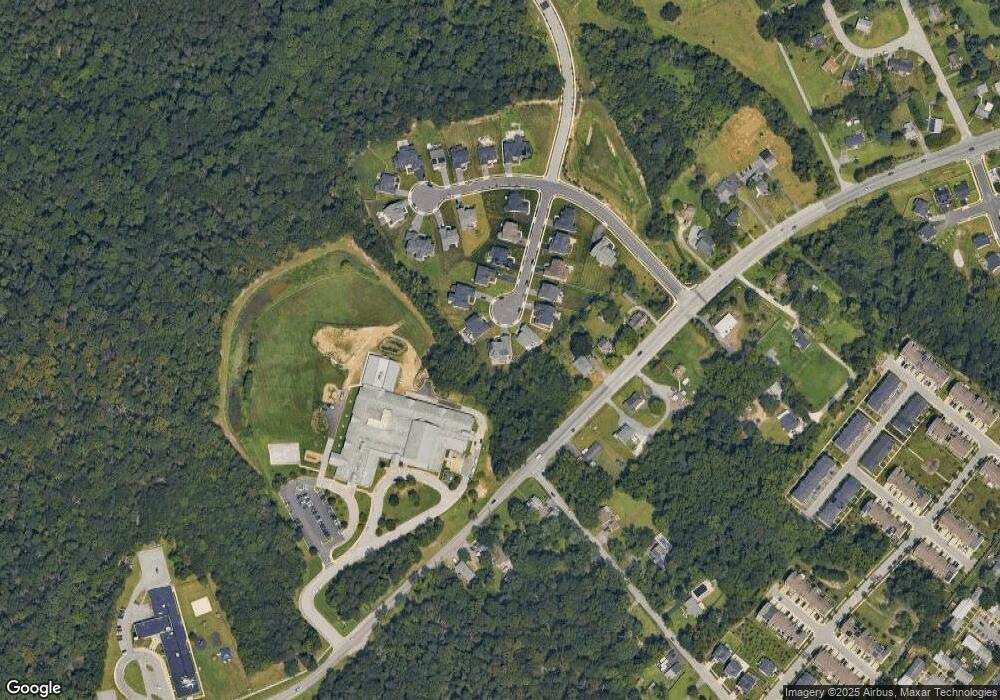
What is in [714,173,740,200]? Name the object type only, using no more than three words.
house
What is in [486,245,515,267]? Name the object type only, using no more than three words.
house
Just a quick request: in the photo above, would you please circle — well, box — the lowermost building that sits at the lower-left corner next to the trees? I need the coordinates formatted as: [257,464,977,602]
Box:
[134,585,199,695]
